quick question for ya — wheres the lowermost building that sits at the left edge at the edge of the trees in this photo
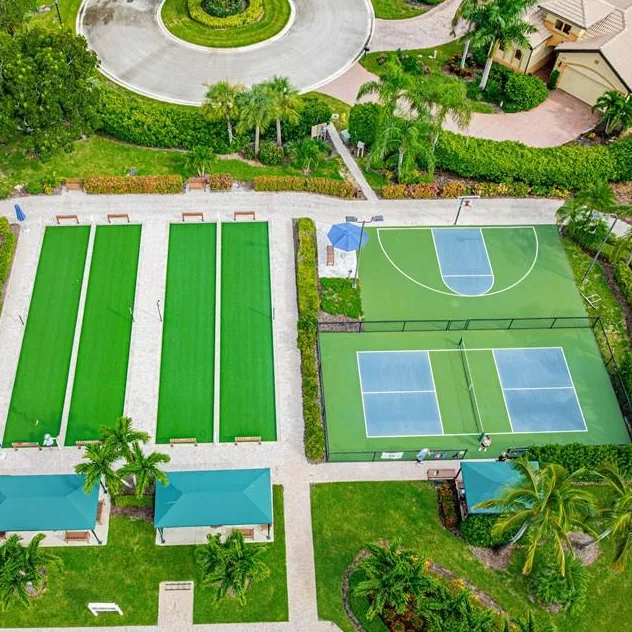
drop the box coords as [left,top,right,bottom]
[0,473,107,549]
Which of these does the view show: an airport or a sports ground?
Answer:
sports ground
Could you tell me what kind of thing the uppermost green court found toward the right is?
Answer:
basketball court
